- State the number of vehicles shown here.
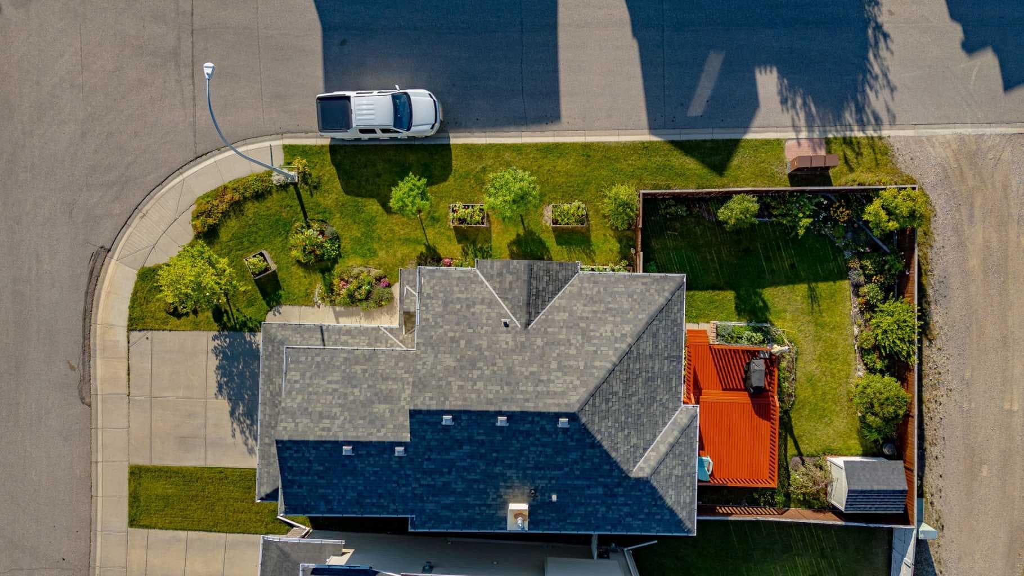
1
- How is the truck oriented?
from left to right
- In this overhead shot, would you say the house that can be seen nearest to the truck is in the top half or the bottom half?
bottom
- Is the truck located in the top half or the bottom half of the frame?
top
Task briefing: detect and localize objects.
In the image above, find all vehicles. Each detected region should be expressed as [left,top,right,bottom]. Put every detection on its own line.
[316,85,444,142]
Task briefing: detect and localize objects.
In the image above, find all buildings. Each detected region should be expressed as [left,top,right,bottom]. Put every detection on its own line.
[827,453,911,514]
[255,260,700,537]
[258,531,663,576]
